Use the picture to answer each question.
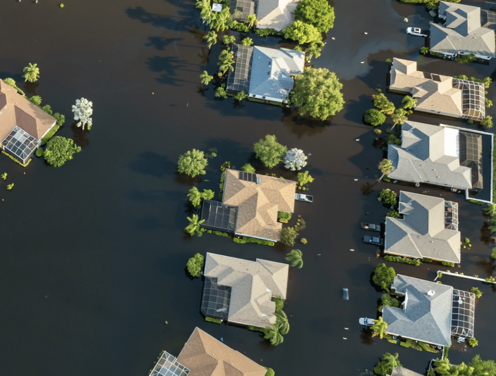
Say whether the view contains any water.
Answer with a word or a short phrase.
Yes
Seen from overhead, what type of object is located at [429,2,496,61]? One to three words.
house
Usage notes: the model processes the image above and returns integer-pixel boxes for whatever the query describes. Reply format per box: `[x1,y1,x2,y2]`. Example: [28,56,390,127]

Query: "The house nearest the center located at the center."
[200,168,296,242]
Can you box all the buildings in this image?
[198,253,289,328]
[200,168,296,242]
[228,0,307,35]
[380,276,474,347]
[382,191,461,264]
[0,78,57,166]
[387,57,489,123]
[429,2,496,61]
[149,327,267,376]
[225,43,305,103]
[386,121,484,192]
